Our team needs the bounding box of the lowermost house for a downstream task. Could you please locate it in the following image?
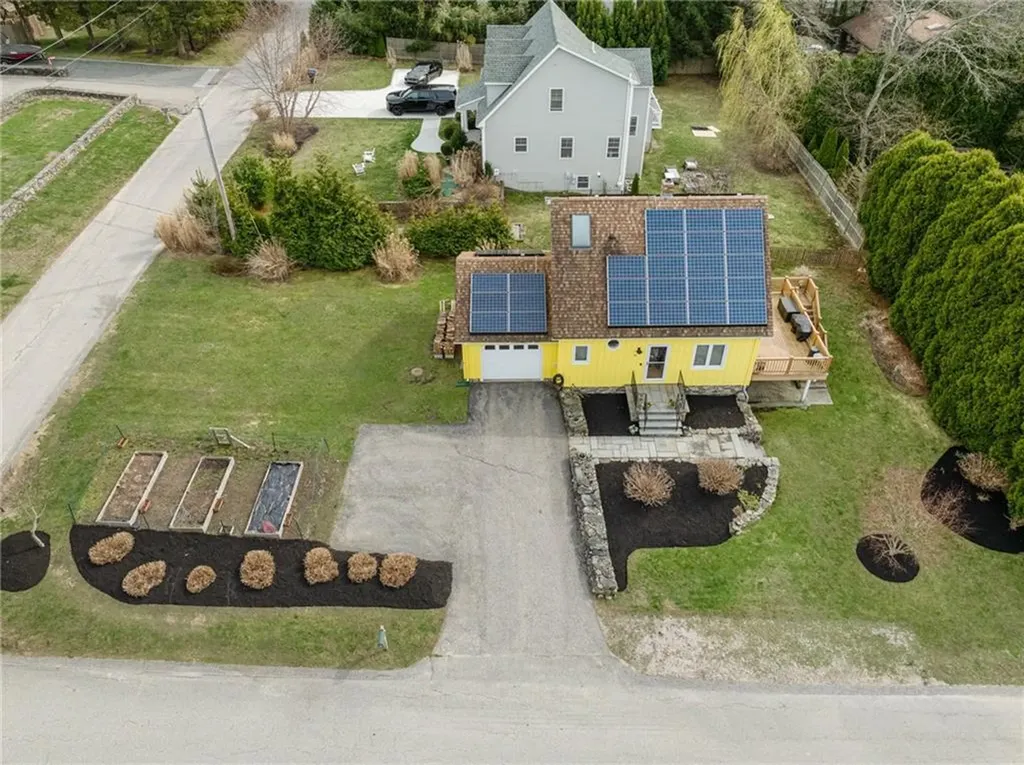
[455,193,778,401]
